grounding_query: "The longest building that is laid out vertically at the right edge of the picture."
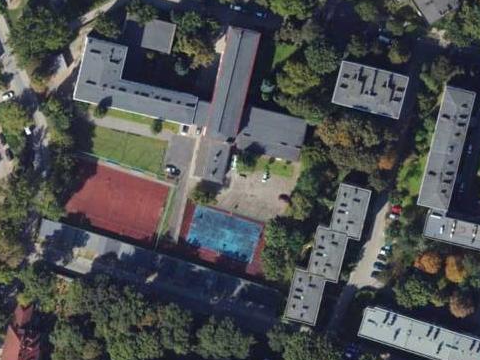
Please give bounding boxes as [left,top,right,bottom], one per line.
[415,85,476,213]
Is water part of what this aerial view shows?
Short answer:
No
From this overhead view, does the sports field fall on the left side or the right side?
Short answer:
left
